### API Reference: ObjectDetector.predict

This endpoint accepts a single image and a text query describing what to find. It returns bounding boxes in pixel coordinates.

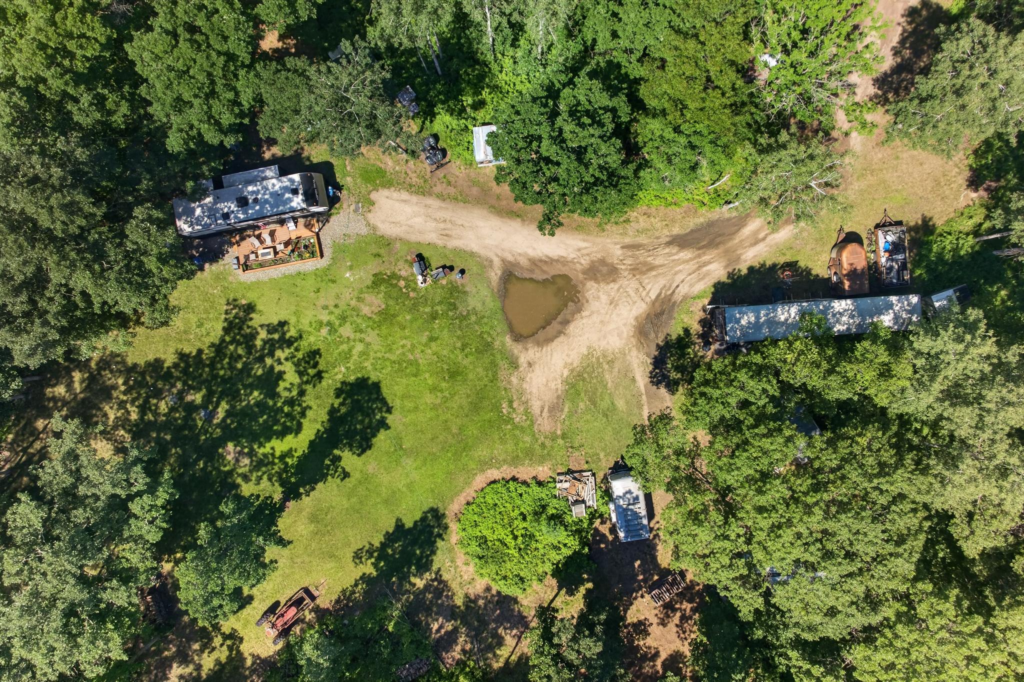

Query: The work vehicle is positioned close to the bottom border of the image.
[254,578,328,648]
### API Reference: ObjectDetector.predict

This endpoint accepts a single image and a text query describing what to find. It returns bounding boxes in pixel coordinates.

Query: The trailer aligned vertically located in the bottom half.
[606,457,649,541]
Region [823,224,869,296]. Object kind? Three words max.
trailer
